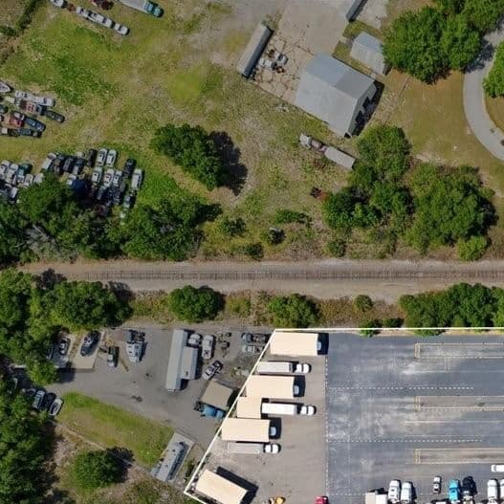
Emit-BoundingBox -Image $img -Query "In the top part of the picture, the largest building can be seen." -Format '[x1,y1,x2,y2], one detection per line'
[293,52,377,143]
